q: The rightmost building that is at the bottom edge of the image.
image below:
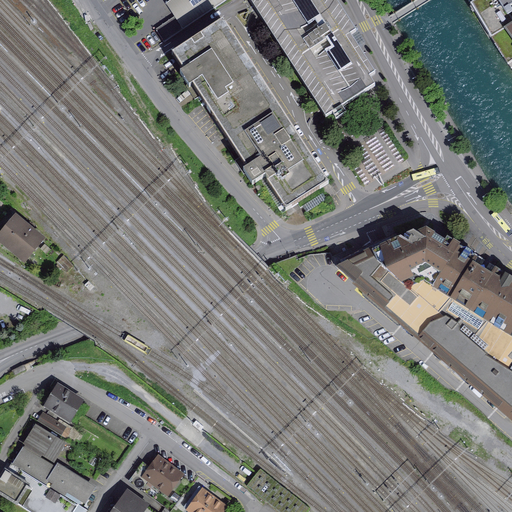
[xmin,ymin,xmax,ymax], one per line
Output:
[246,468,311,512]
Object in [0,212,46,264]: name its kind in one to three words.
house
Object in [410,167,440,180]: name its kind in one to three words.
vehicle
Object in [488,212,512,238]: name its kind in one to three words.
bus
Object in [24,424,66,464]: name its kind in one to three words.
building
